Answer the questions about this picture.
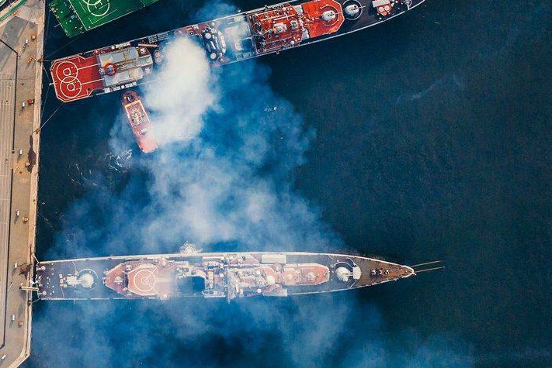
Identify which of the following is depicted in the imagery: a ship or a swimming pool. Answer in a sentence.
It is a ship that can be seen here.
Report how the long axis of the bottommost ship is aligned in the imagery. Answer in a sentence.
What the image shows is the bottommost ship lying from left to right.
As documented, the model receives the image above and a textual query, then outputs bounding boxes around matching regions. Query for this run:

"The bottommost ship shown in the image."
[22,249,445,307]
